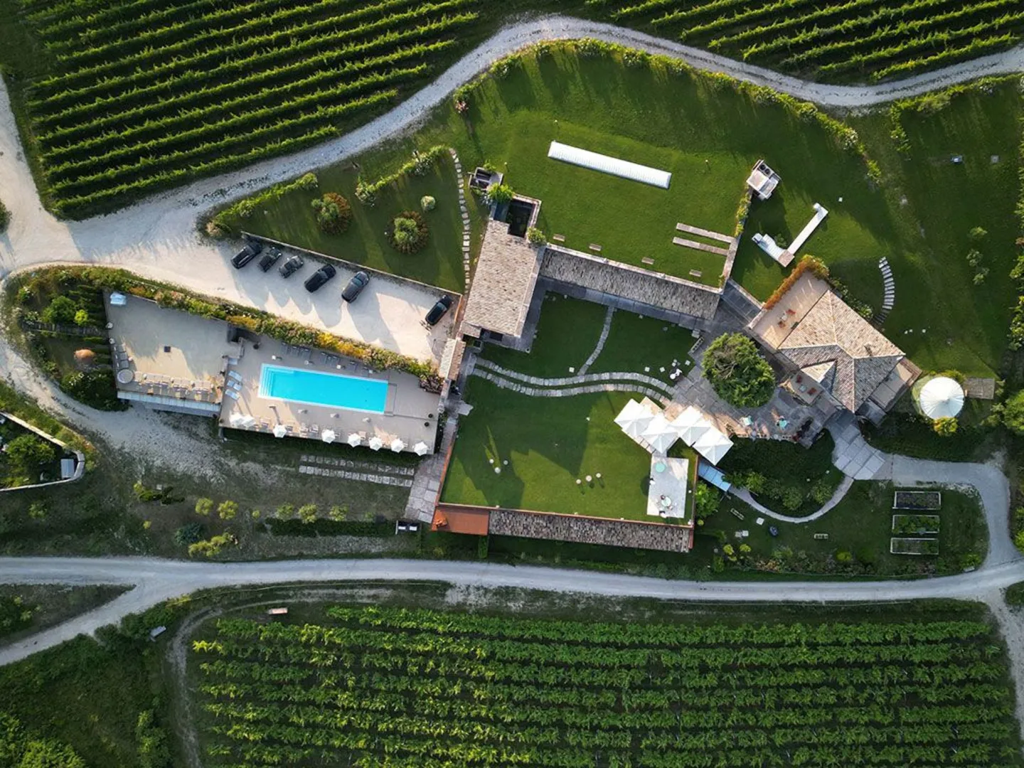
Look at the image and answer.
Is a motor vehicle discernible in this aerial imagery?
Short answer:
Yes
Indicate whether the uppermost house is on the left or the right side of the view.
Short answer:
right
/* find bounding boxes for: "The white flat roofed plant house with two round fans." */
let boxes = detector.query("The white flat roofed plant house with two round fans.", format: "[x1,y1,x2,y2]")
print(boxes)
[744,158,784,201]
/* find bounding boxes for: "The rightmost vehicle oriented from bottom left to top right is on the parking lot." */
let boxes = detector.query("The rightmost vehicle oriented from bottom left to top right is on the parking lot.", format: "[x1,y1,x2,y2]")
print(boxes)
[421,293,455,328]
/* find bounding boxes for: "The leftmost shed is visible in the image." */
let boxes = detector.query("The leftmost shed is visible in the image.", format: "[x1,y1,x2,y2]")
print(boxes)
[61,459,80,478]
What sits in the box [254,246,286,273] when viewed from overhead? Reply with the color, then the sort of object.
black car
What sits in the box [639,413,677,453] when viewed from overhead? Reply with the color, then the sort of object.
white umbrella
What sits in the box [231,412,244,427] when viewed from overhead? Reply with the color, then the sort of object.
white umbrella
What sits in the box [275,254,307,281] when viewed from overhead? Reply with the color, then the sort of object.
gray car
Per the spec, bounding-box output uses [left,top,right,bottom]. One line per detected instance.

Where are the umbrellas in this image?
[231,412,244,427]
[639,413,677,453]
[614,399,654,437]
[347,433,362,447]
[369,437,383,450]
[322,429,336,443]
[693,419,734,465]
[274,423,287,438]
[243,414,257,427]
[414,442,429,455]
[670,406,707,446]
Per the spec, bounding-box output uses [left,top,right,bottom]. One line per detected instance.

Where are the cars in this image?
[302,263,339,295]
[421,293,455,328]
[275,254,307,281]
[229,241,266,272]
[254,246,286,273]
[339,270,372,304]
